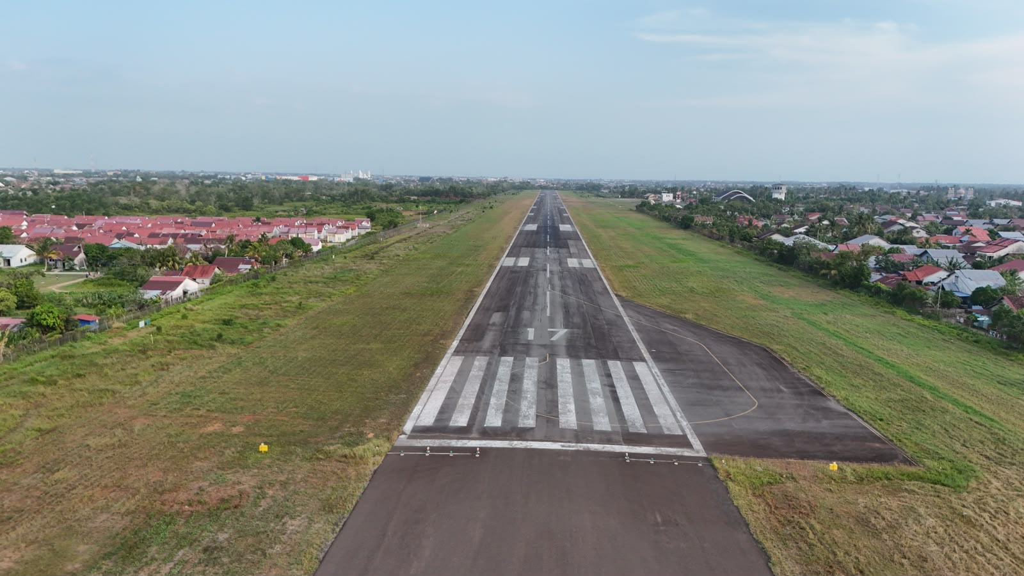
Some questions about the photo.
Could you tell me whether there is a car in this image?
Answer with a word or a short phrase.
No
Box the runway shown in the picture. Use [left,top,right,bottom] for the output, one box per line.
[401,190,707,450]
